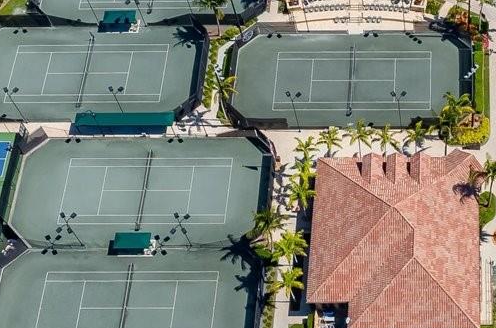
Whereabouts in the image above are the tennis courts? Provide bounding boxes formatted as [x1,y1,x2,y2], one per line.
[230,33,473,131]
[11,138,277,248]
[38,0,268,27]
[0,26,211,123]
[0,248,266,328]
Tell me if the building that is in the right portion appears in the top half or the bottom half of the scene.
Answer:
bottom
